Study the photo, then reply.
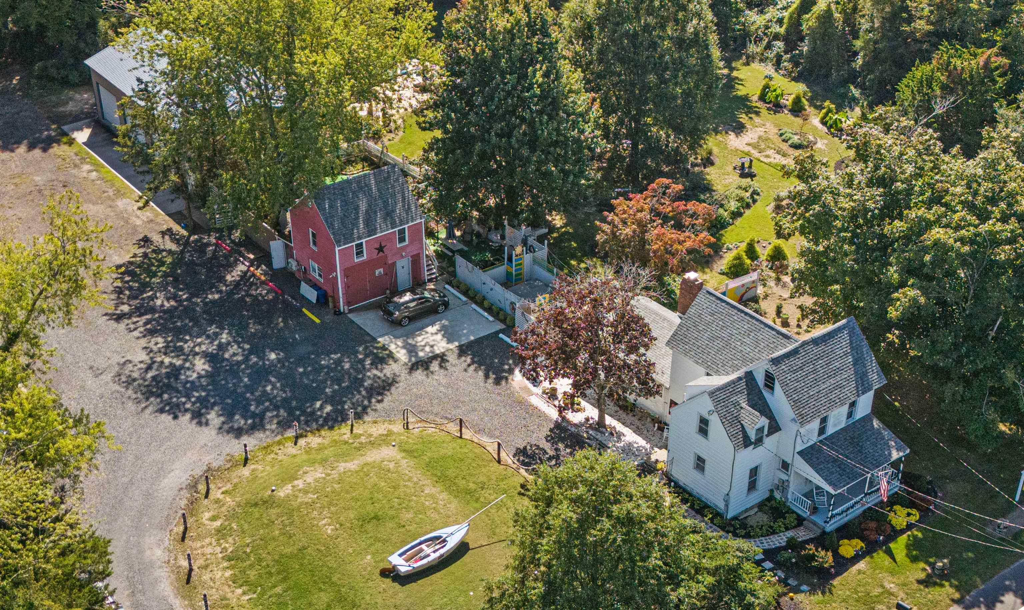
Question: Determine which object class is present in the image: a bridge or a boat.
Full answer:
Of the two, only a boat appears.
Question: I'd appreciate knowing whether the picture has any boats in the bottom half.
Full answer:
Yes, I can see a boat in the bottom half.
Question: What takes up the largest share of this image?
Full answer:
Most of the picture is covered by trees.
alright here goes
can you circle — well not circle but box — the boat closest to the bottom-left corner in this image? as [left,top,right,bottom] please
[377,494,501,576]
